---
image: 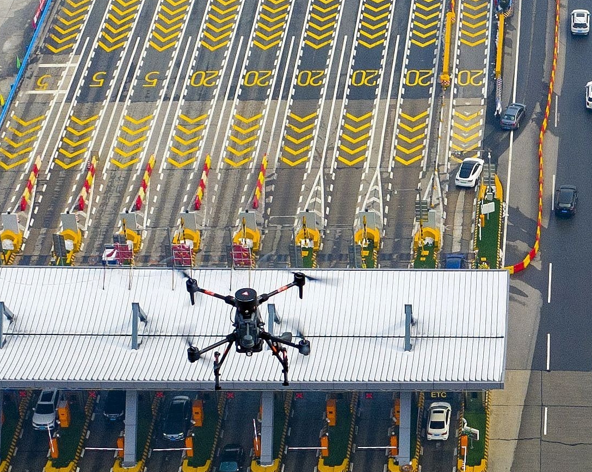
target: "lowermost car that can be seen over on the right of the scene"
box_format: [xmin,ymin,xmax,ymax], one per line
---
[426,402,454,439]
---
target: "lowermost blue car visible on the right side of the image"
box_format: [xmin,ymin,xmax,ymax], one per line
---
[444,248,468,268]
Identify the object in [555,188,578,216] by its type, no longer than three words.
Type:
car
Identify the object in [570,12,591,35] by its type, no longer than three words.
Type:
car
